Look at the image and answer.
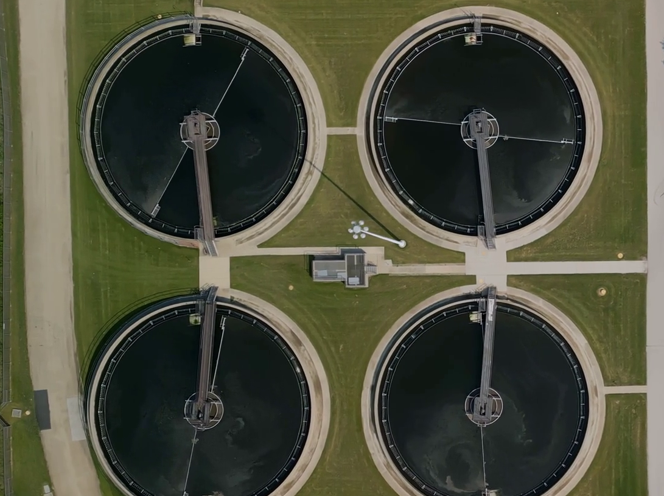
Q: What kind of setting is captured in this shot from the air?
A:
industrial area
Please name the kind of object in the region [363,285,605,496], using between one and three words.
storage tank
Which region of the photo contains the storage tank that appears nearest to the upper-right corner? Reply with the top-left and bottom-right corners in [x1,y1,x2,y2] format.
[357,8,601,252]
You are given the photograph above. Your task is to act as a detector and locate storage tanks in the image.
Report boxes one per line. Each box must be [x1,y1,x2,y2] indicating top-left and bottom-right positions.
[363,285,605,496]
[83,10,324,253]
[357,8,601,252]
[87,288,329,496]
